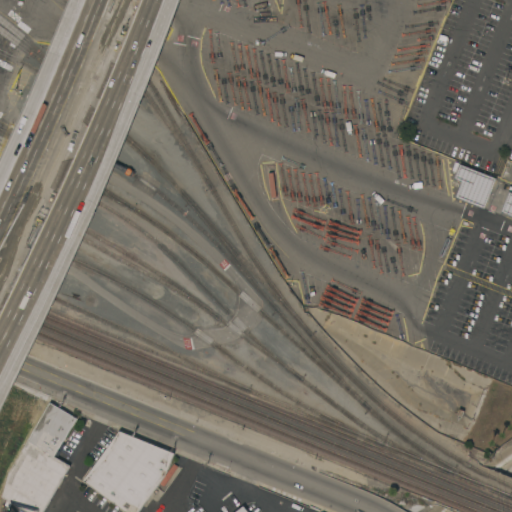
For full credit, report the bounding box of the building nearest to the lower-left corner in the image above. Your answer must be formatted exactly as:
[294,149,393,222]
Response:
[3,440,70,512]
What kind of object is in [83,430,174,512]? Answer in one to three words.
building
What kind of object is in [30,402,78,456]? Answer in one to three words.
building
